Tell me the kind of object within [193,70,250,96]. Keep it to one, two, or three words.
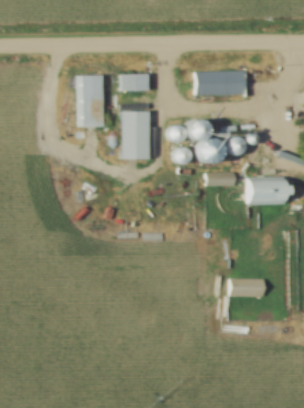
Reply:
shed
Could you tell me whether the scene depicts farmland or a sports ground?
farmland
